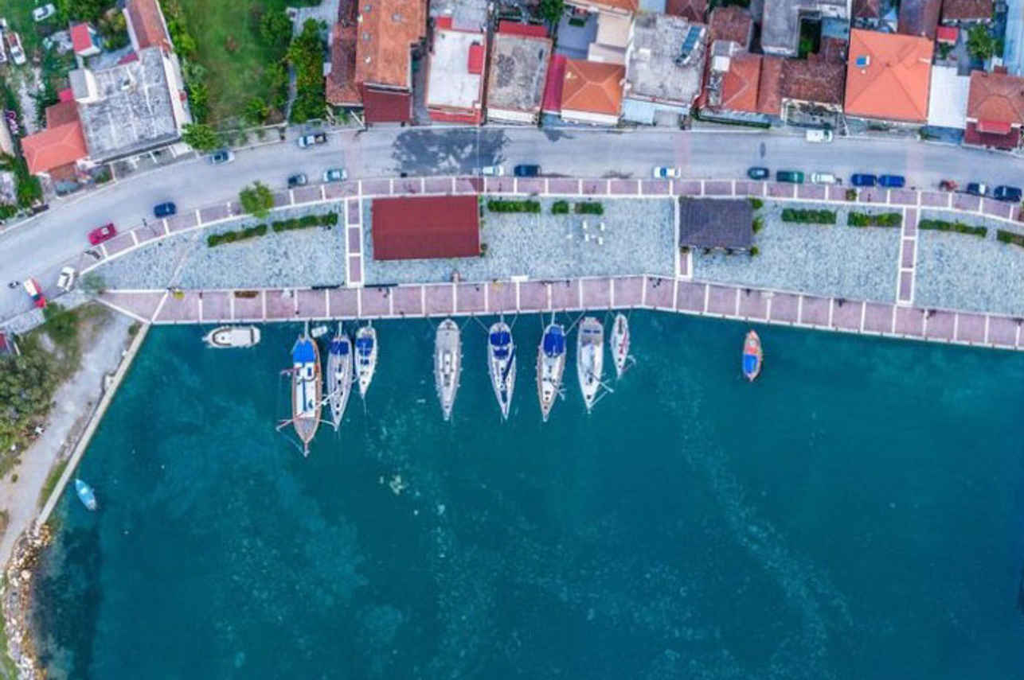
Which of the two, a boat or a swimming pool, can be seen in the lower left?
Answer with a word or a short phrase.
boat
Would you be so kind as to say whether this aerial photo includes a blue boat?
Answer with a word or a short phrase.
Yes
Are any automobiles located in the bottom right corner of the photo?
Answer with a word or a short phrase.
No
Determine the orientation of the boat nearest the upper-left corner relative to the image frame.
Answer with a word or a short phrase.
from left to right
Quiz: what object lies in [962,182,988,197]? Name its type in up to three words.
car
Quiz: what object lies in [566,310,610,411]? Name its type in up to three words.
boat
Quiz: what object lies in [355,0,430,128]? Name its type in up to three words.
house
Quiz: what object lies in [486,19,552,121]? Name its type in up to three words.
house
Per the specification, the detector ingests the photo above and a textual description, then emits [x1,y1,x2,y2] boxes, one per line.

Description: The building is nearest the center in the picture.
[371,196,482,260]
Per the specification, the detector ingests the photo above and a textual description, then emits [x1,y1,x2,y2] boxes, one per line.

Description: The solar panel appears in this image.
[681,26,706,50]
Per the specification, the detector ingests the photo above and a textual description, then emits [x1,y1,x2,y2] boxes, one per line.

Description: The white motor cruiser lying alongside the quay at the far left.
[200,320,267,349]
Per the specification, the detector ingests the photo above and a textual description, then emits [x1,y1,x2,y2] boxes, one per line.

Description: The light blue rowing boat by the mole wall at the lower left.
[75,479,97,510]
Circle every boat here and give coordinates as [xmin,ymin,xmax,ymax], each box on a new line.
[427,314,473,421]
[477,312,518,421]
[200,320,267,349]
[741,329,763,382]
[344,319,378,399]
[609,307,636,379]
[535,310,583,423]
[273,320,323,460]
[306,320,352,430]
[75,479,97,510]
[313,326,328,336]
[566,310,610,411]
